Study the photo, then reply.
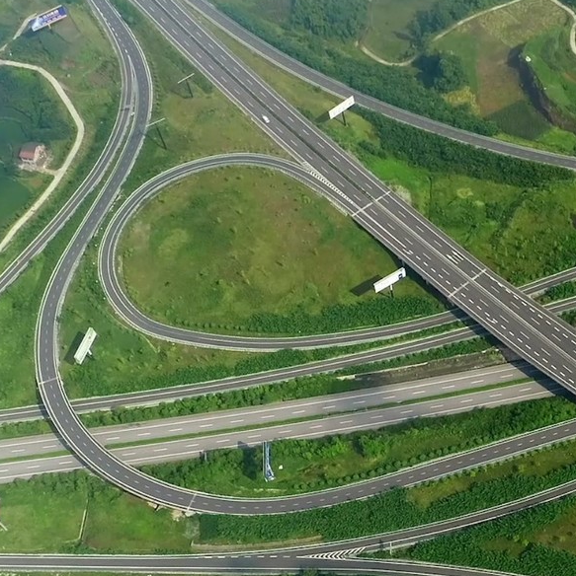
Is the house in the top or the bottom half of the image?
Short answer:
top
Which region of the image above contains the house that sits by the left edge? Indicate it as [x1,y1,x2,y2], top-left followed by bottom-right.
[17,143,43,164]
